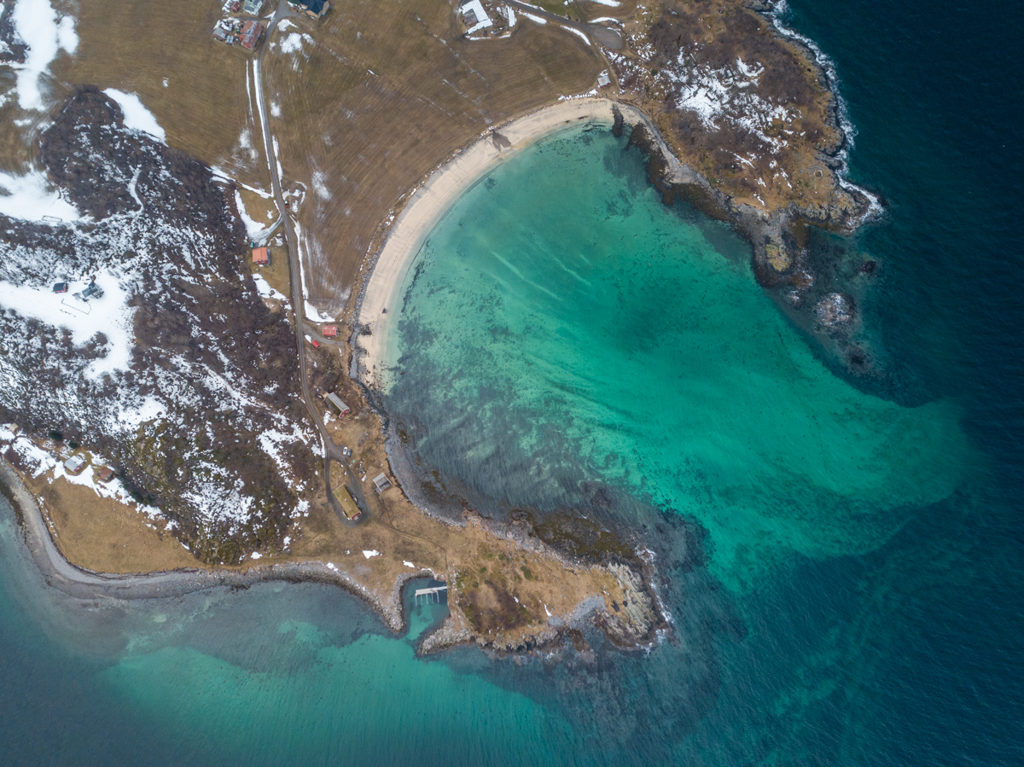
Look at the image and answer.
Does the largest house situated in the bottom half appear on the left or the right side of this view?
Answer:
left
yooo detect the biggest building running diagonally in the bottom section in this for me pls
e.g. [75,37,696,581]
[334,485,362,519]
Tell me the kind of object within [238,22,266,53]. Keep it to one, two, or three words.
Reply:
barn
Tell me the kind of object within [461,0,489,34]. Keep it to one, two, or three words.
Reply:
barn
